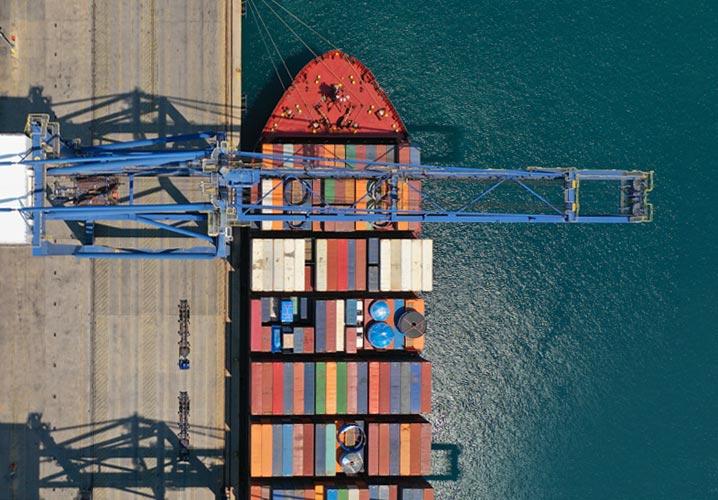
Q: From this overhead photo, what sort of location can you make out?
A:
port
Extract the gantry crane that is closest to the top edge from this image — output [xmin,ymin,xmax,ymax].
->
[0,110,654,260]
